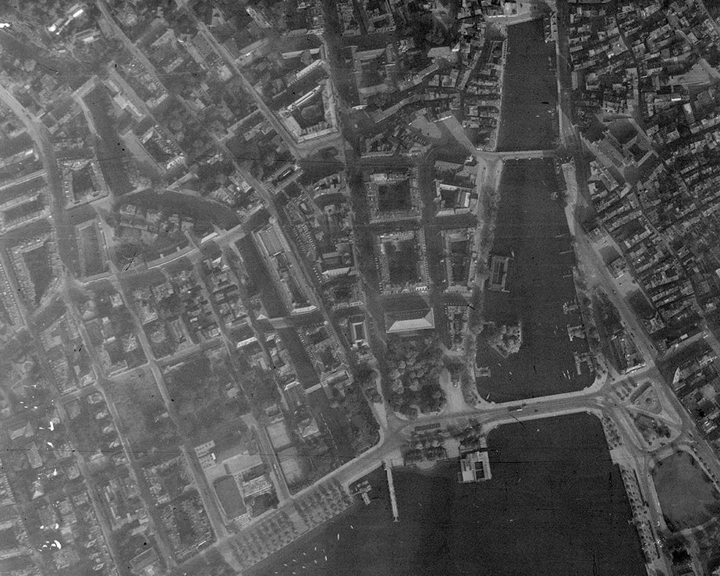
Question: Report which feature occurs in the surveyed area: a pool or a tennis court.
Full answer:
Visible in the photo is a tennis court.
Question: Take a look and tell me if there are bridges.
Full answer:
Yes, I can see a bridge in this picture.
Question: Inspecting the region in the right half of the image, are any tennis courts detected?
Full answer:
No, there is no tennis court in the right half of the image.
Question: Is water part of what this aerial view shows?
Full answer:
Yes, there is water in the image.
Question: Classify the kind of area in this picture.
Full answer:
The picture captures a residential area.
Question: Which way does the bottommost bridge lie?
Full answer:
In this picture, the bottommost bridge lies from left to right.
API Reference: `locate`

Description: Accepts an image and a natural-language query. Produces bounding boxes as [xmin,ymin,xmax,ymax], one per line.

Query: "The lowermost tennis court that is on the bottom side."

[278,448,302,476]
